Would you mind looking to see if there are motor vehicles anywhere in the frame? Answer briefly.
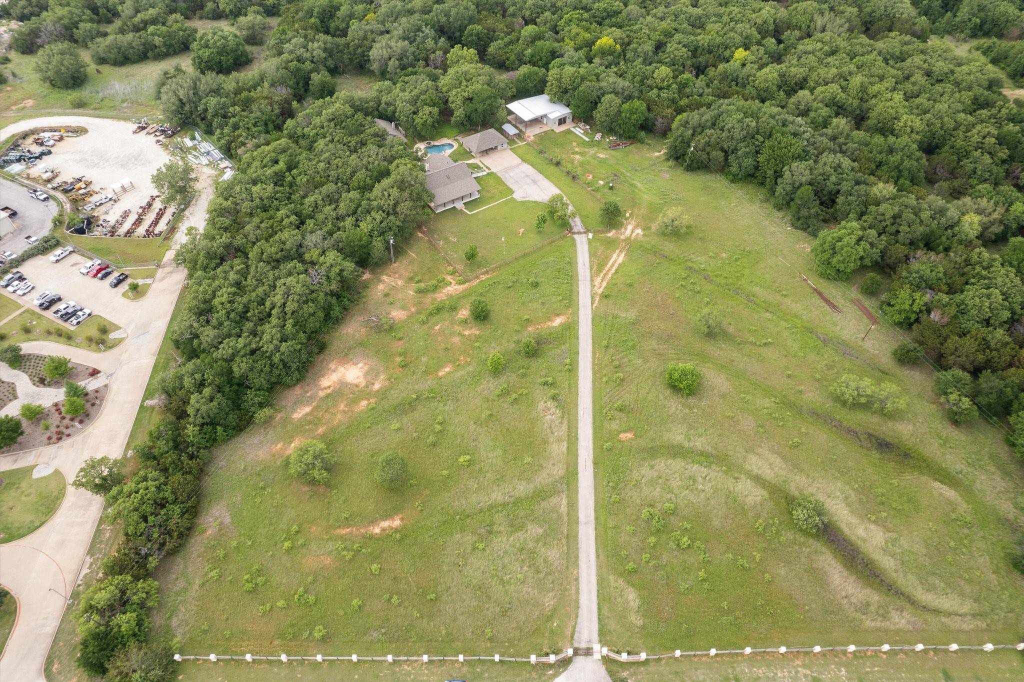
Yes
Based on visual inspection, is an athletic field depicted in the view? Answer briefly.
No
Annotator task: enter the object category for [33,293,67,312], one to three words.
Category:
vehicle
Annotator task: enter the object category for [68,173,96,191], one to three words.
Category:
work vehicle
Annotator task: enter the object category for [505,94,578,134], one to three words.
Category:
barn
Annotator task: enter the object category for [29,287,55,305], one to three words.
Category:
car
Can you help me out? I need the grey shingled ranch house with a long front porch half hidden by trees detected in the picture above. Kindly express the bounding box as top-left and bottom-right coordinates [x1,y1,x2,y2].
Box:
[413,150,481,212]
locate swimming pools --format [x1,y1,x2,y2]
[418,137,458,156]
